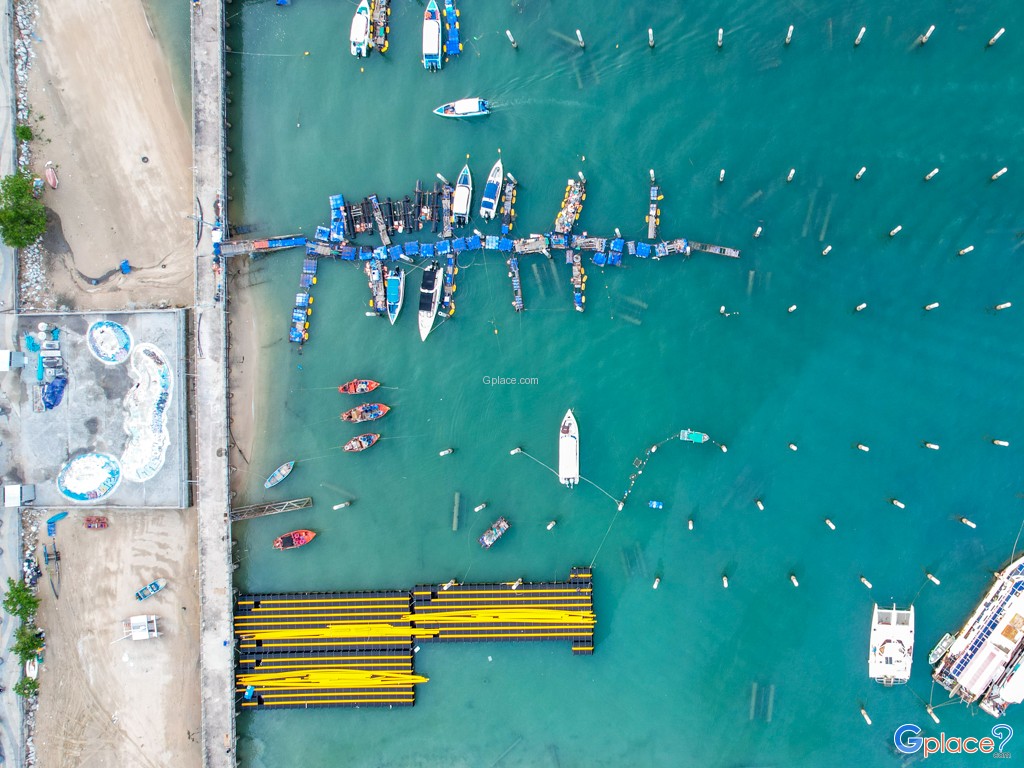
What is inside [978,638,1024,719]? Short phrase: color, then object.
white boat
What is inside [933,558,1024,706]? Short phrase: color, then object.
white ship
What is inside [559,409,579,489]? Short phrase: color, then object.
white boat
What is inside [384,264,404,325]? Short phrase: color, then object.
blue boat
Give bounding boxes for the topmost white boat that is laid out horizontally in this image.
[433,97,494,117]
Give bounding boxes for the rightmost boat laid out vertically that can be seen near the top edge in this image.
[422,0,442,73]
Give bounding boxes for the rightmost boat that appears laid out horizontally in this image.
[679,430,709,443]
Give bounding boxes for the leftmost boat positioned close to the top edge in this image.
[349,0,371,61]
